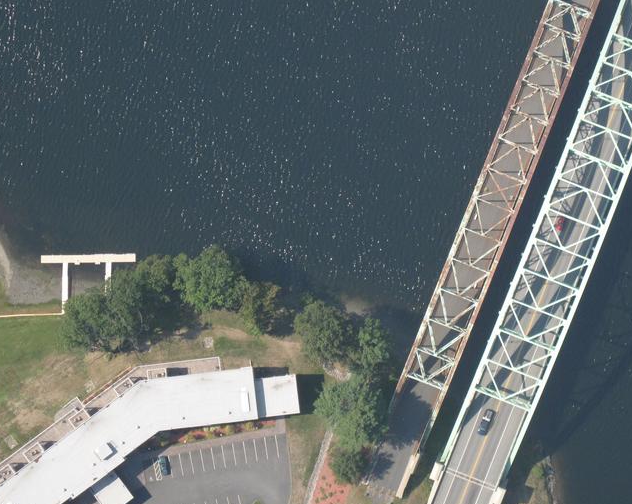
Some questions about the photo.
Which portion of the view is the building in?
bottom left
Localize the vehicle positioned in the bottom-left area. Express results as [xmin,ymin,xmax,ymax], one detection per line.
[158,454,171,476]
